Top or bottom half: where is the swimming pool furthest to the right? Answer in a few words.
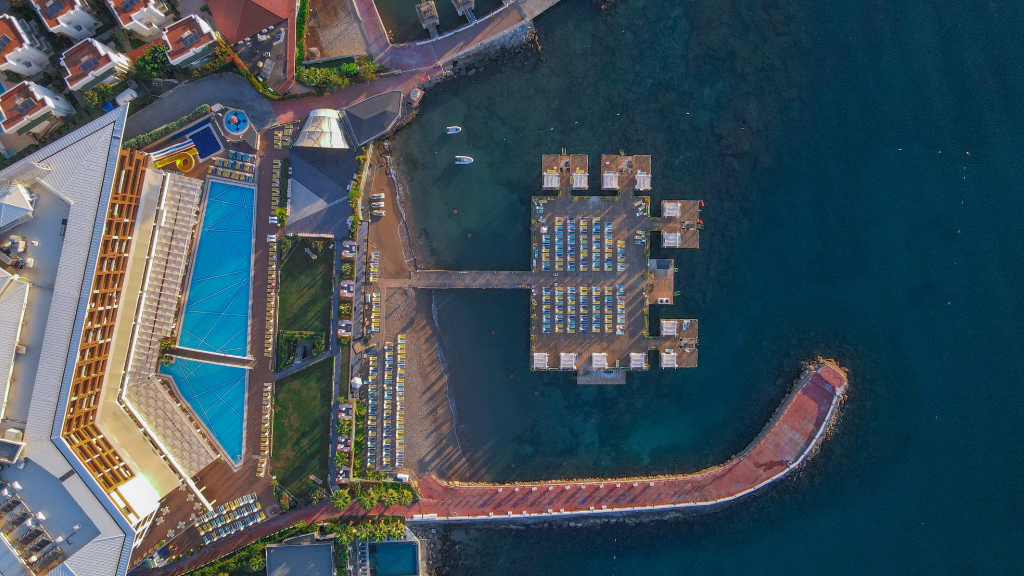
bottom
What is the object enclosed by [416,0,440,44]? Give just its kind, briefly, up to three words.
pier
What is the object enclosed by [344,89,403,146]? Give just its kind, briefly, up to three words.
building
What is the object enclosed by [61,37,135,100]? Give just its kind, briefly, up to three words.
house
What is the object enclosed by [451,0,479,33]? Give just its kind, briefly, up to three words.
pier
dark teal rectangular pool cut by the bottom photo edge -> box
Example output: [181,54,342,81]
[374,541,419,576]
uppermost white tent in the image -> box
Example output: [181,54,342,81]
[289,104,356,151]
